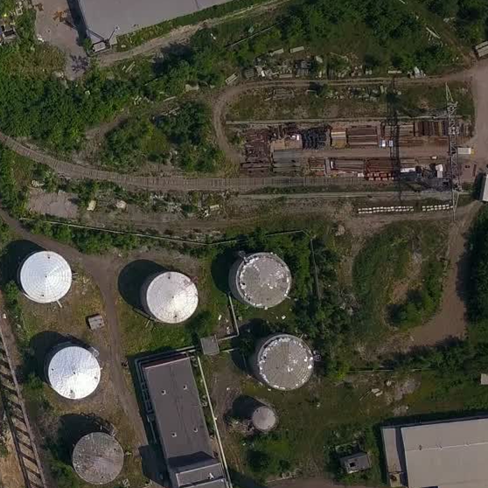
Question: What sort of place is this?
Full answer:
The area seen from above is an industrial area.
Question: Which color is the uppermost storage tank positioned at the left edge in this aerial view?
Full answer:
The uppermost storage tank positioned at the left edge is white.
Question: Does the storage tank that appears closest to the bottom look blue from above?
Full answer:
No, the color of the storage tank that appears closest to the bottom is gray.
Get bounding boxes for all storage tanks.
[229,251,292,307]
[252,330,317,391]
[47,340,101,399]
[70,425,125,485]
[19,249,75,307]
[243,402,276,430]
[142,270,199,327]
